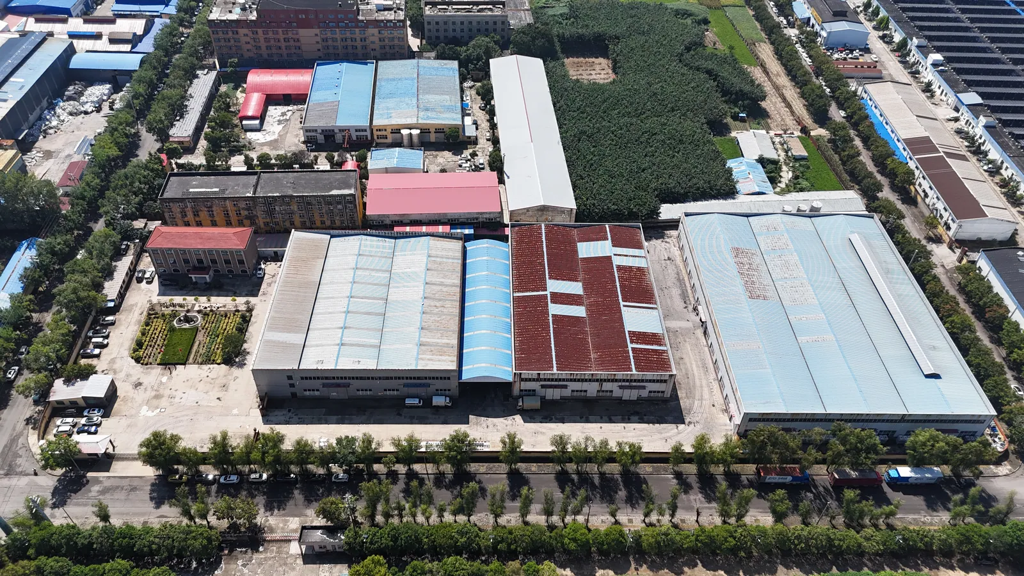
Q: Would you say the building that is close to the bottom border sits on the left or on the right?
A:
left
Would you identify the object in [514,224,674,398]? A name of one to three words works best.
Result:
shed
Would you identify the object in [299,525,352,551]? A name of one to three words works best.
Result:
building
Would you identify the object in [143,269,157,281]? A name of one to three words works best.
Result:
vehicle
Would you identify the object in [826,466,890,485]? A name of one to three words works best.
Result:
vehicle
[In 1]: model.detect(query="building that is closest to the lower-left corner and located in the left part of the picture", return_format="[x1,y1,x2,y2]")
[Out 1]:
[64,434,116,458]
